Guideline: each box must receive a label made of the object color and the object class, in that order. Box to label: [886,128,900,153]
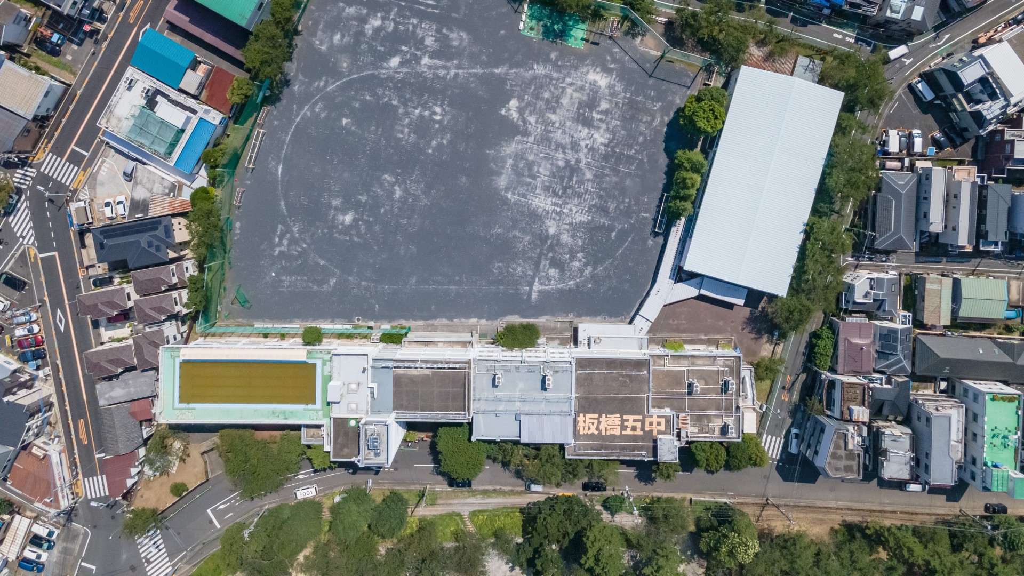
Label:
white vehicle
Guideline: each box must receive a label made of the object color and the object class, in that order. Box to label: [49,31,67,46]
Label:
blue vehicle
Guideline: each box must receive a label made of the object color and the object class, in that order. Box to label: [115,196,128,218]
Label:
white vehicle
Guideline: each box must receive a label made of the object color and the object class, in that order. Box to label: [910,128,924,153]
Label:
white car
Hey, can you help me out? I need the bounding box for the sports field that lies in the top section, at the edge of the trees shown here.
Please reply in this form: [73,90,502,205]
[221,0,716,321]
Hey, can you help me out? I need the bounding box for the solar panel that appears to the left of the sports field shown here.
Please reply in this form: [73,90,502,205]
[100,220,171,251]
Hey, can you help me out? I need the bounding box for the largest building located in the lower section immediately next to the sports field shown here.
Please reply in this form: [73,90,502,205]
[160,320,757,467]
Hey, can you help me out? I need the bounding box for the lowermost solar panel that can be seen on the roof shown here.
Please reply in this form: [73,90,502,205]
[878,330,911,361]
